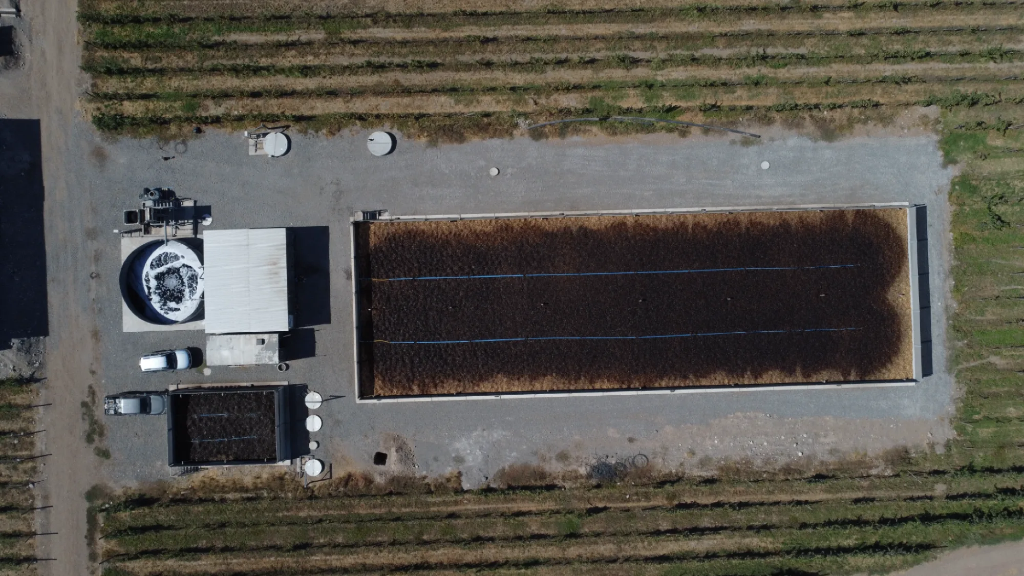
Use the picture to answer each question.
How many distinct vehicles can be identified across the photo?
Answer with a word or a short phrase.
two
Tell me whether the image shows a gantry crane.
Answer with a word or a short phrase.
No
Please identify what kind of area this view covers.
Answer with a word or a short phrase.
industrial area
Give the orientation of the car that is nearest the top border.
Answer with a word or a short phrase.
horizontally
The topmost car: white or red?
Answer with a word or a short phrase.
white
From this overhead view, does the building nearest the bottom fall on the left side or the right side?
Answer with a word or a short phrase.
left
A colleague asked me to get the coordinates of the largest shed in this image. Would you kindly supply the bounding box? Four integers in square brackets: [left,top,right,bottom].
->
[203,228,297,333]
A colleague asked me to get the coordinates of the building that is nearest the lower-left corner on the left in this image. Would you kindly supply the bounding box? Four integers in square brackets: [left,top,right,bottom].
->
[206,333,288,365]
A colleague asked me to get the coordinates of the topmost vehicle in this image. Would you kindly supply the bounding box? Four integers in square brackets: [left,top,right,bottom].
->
[138,349,194,374]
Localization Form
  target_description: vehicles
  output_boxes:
[138,349,194,374]
[103,393,168,419]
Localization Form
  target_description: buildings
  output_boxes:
[203,228,297,333]
[206,333,288,365]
